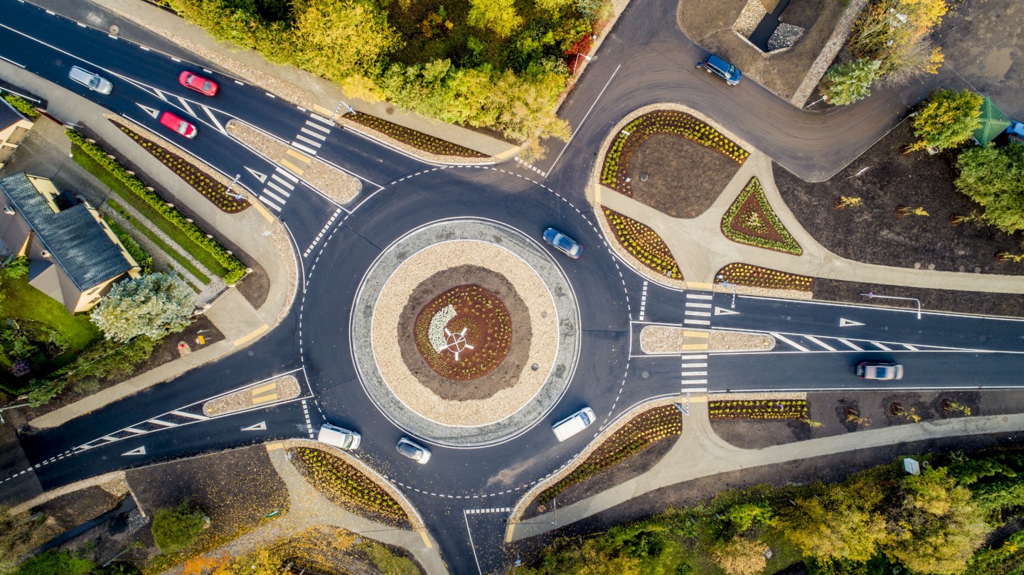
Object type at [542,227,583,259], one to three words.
car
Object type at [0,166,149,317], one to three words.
house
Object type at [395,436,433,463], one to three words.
car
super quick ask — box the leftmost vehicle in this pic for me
[68,65,114,95]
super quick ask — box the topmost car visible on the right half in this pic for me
[696,53,742,84]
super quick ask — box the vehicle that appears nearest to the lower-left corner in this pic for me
[316,424,362,450]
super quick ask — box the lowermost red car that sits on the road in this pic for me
[157,111,199,139]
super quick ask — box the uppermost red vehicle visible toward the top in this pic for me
[180,71,221,97]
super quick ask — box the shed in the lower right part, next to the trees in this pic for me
[897,455,923,476]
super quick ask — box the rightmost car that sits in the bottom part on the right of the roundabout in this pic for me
[857,362,900,380]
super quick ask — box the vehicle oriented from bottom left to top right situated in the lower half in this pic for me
[553,407,596,442]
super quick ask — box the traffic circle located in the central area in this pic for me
[296,165,635,502]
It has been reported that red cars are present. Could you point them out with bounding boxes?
[180,71,221,97]
[157,111,199,139]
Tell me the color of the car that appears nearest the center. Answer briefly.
blue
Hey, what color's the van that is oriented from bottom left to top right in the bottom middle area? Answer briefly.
white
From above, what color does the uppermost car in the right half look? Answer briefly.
blue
